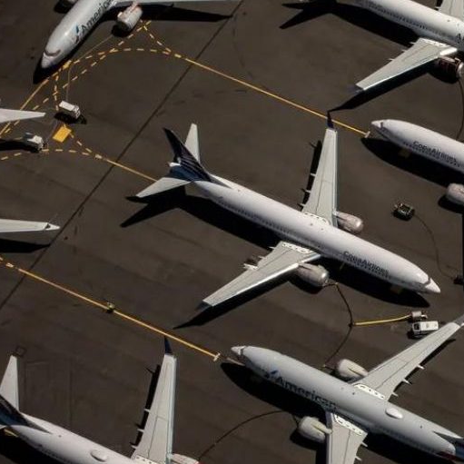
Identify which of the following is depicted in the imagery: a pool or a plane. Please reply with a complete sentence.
The image shows a plane.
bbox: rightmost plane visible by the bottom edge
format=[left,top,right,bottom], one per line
[233,312,464,464]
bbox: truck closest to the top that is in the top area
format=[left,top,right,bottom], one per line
[56,100,82,122]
